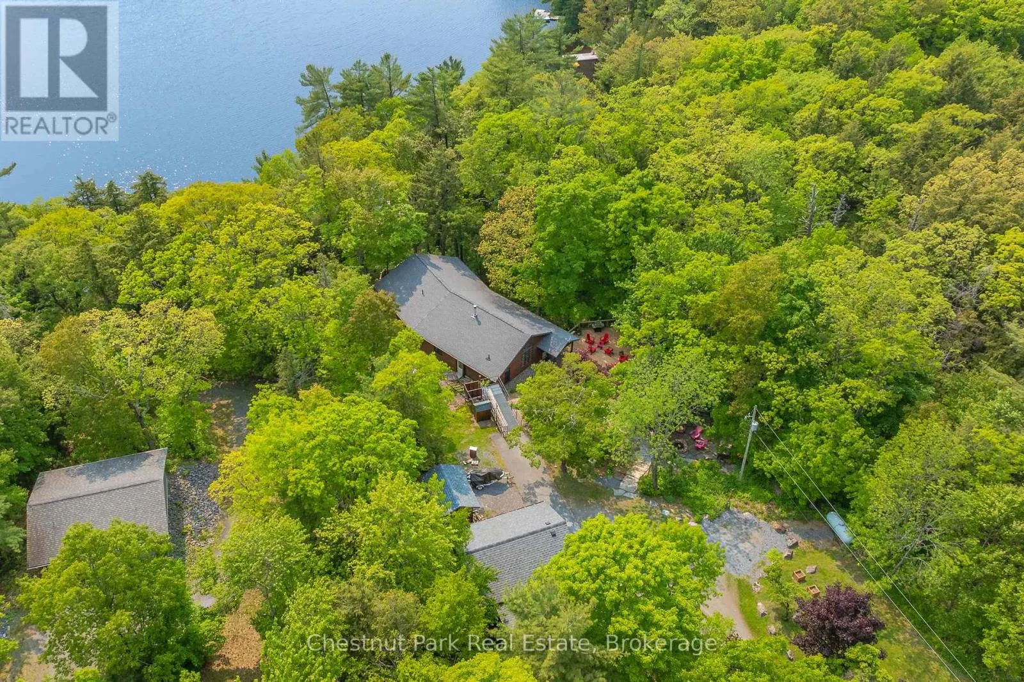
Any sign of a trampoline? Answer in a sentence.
No, the picture doesn't show any trampoline.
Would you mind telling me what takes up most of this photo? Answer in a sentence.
The bulk of the photo consists of trees.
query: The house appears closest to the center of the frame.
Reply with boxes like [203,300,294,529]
[374,252,583,398]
